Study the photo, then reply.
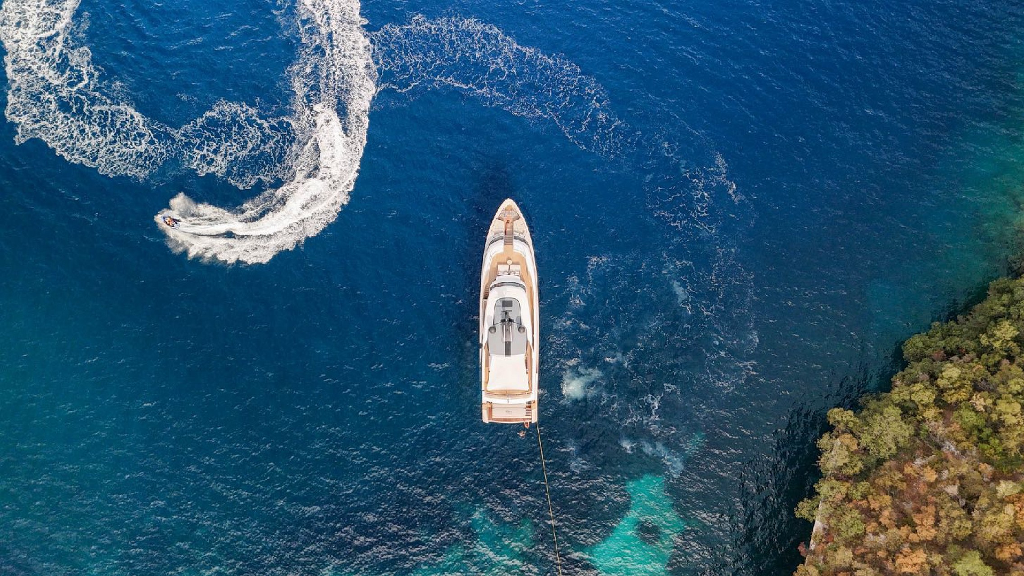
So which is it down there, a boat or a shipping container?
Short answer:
boat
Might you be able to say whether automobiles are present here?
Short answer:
No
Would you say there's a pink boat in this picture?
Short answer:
No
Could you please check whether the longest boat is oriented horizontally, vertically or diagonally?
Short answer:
vertically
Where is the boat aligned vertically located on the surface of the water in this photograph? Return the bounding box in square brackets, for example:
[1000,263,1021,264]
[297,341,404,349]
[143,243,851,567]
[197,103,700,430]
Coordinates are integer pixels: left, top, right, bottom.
[480,198,539,429]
